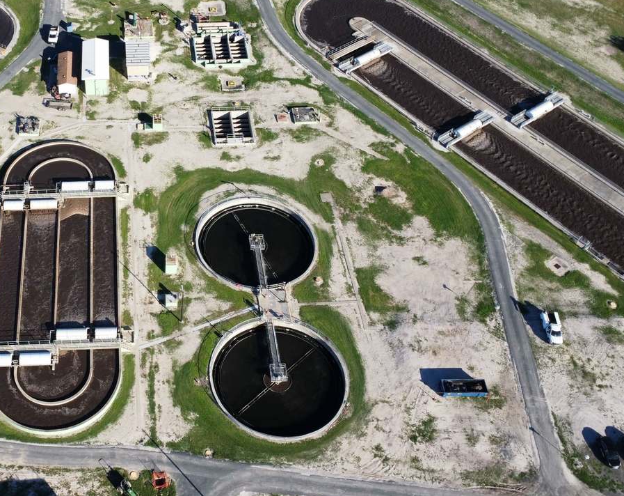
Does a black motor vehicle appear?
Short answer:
Yes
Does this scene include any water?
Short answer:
Yes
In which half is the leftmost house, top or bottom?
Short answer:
top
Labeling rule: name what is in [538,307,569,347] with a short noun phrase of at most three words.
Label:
truck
